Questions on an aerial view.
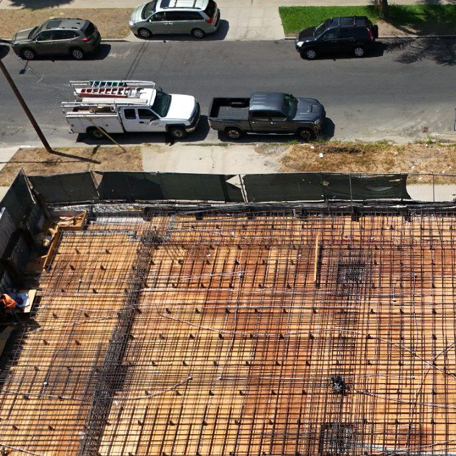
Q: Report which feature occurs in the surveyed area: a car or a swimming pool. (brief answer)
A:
car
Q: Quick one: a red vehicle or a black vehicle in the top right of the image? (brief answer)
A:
black vehicle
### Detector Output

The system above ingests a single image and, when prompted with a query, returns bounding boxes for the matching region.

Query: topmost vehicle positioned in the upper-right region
[292,13,383,58]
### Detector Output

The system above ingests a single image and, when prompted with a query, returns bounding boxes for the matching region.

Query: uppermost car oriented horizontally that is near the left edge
[9,14,105,59]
